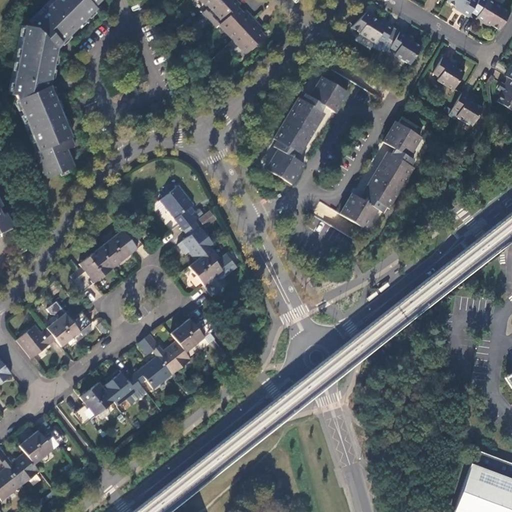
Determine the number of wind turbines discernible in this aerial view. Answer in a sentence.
The photo contains no wind turbines.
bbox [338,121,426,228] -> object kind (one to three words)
building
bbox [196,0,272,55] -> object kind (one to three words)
building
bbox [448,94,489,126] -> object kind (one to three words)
house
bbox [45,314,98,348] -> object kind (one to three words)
house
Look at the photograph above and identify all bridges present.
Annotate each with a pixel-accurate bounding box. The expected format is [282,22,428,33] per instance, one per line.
[134,213,512,512]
